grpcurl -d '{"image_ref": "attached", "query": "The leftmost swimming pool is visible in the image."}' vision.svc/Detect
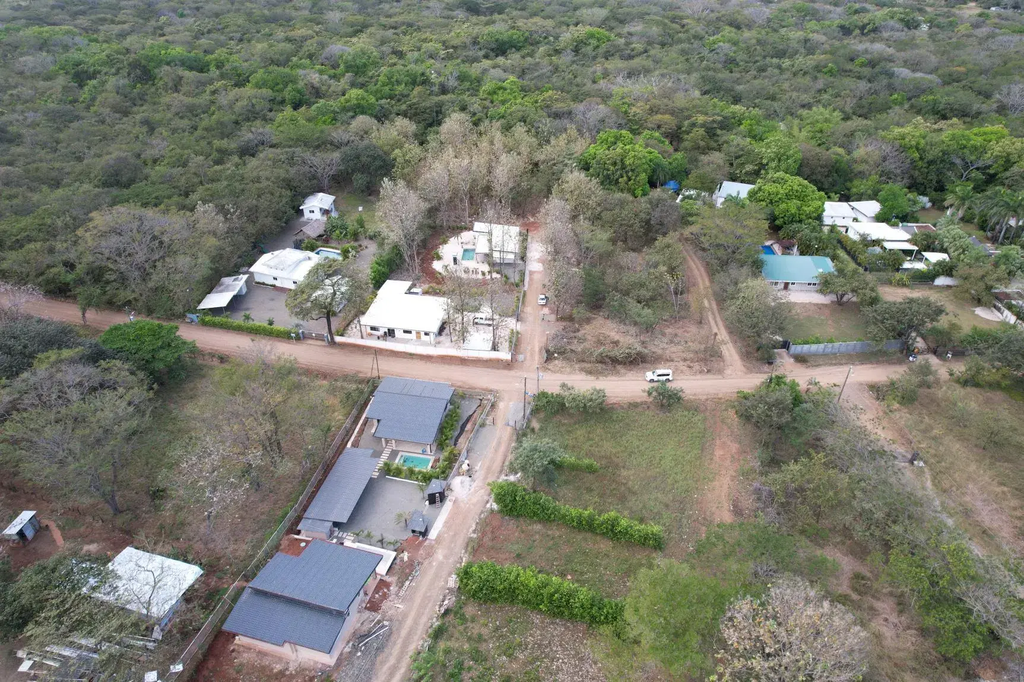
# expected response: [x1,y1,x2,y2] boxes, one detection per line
[314,248,342,264]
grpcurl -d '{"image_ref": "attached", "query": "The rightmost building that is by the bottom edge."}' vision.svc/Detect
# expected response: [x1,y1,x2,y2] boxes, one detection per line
[221,539,384,666]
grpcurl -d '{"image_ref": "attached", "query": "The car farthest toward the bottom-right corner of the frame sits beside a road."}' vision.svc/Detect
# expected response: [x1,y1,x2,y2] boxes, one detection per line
[644,369,674,383]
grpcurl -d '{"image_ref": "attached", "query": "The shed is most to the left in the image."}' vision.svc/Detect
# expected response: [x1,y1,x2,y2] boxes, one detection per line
[2,511,41,545]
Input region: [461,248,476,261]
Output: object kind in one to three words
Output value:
swimming pool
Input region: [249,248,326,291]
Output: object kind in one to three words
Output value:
house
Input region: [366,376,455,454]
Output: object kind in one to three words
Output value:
building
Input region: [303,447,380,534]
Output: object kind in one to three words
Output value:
building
